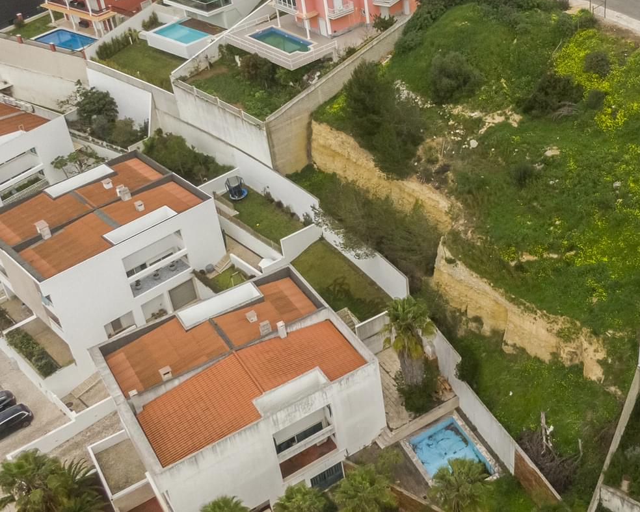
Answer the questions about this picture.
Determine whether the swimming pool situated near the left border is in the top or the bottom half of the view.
top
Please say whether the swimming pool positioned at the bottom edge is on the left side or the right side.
right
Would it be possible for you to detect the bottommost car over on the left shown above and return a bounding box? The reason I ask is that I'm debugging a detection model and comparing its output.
[0,398,41,435]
